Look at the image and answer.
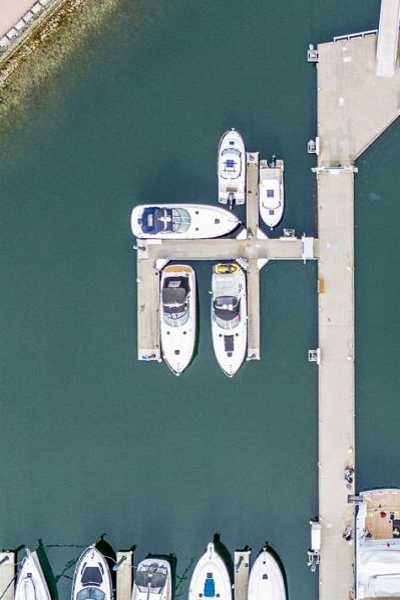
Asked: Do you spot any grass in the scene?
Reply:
No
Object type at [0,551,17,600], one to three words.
pier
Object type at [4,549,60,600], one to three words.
boat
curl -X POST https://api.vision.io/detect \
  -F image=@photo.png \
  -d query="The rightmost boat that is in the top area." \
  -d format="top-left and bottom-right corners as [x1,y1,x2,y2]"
[258,157,284,232]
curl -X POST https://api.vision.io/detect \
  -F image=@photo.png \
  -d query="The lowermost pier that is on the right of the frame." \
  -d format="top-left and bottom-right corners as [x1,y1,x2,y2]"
[234,550,252,600]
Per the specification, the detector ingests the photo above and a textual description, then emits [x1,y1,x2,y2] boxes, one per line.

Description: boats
[218,125,250,209]
[70,544,117,600]
[188,541,236,600]
[132,204,244,242]
[258,157,284,232]
[212,263,251,380]
[132,556,172,600]
[353,485,400,600]
[4,549,60,600]
[158,265,196,379]
[246,546,288,600]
